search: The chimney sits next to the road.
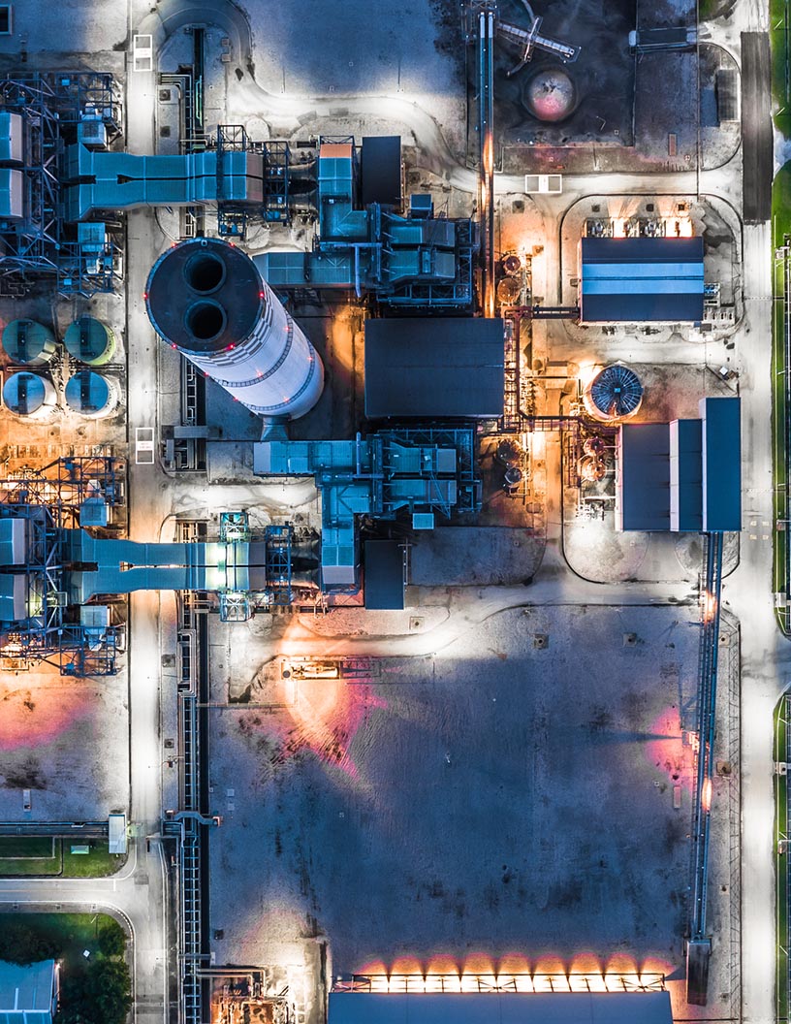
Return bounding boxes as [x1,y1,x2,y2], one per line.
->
[142,229,325,423]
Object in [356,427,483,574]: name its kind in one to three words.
house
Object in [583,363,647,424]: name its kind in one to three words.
storage tank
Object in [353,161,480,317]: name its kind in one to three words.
house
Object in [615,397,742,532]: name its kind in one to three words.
building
